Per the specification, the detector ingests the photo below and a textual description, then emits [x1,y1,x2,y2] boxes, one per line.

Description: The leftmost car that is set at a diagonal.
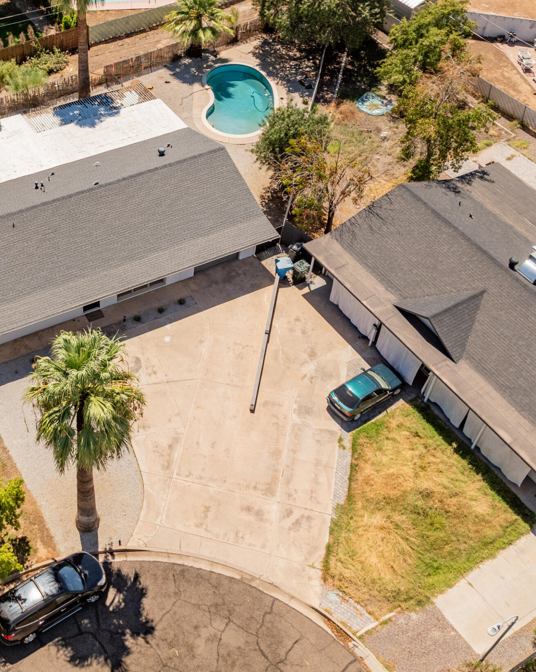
[0,547,115,656]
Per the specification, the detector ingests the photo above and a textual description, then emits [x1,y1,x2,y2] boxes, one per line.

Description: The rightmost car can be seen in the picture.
[321,359,412,426]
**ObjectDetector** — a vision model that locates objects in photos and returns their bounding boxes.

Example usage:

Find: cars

[321,359,412,426]
[0,547,115,656]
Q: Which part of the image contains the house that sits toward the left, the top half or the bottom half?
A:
top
